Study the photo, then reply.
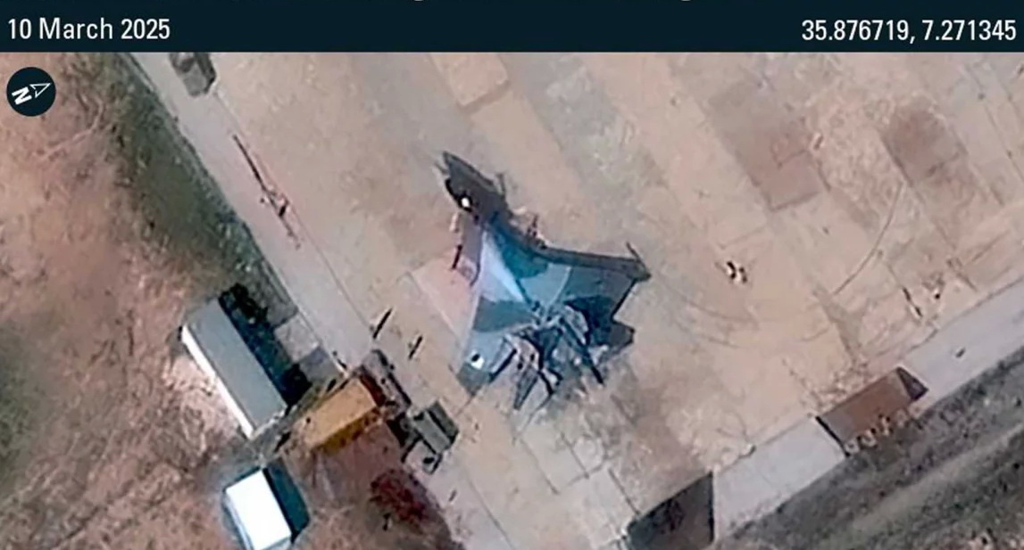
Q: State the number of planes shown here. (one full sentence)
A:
My tally gives 1 plane in this photo.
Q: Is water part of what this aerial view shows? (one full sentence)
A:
No, the picture contains no water.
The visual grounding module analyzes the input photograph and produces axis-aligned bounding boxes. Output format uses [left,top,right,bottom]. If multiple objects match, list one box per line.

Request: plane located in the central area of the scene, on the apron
[439,160,645,422]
